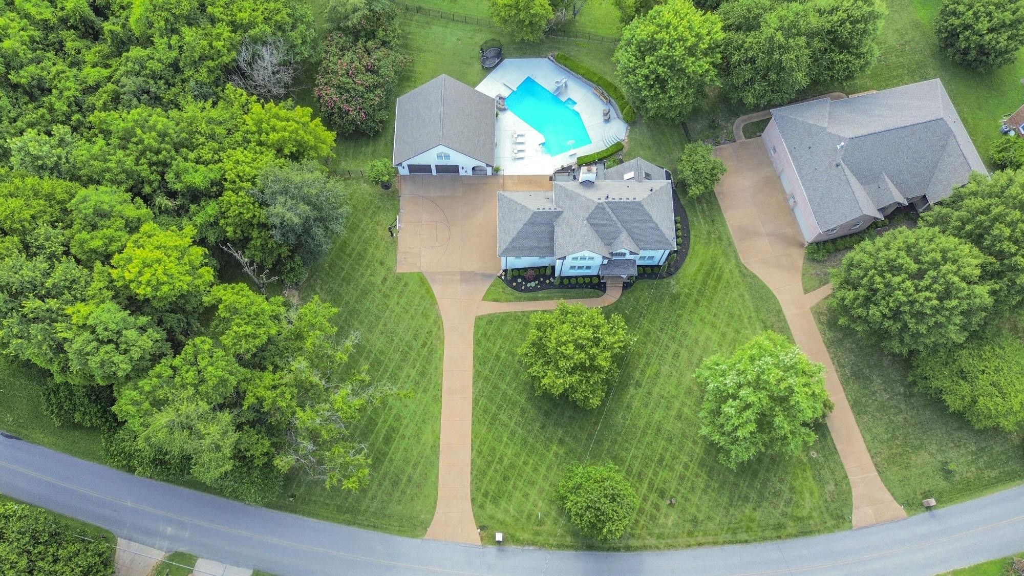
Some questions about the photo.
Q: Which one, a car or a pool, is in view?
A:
pool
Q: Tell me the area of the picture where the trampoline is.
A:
top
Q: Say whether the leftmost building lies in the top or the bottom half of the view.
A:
top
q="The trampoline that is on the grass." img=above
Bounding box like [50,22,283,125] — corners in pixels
[481,40,503,70]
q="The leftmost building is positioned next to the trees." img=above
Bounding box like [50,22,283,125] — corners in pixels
[391,75,495,177]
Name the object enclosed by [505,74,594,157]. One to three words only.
swimming pool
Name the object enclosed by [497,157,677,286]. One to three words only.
house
